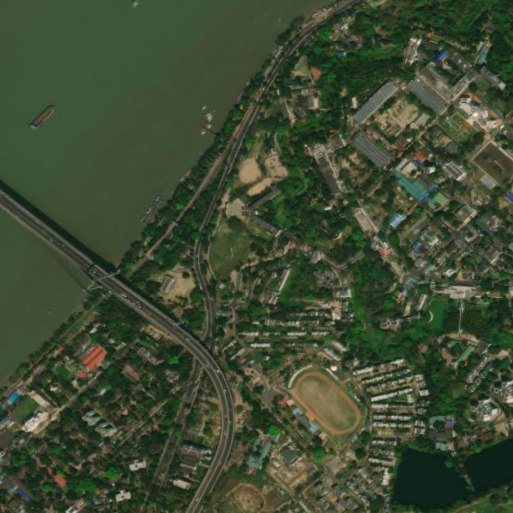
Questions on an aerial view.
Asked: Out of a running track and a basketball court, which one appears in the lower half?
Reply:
running track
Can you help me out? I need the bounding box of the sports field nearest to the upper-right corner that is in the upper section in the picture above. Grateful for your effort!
[472,140,513,185]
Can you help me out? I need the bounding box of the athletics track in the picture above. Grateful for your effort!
[290,365,363,437]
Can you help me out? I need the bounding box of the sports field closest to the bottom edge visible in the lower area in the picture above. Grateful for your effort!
[232,483,268,513]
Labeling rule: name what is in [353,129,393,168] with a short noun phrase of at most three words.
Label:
building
